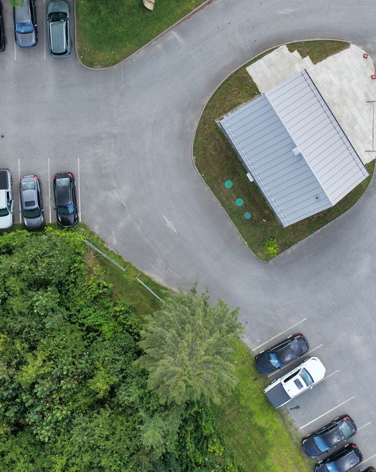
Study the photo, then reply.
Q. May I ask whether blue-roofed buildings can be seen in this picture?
No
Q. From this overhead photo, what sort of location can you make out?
parking lot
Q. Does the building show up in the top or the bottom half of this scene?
top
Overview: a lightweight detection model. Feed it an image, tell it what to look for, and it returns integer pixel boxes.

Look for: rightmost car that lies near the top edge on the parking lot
[45,0,72,58]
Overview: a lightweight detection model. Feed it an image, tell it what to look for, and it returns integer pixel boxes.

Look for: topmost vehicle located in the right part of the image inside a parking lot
[256,333,308,373]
